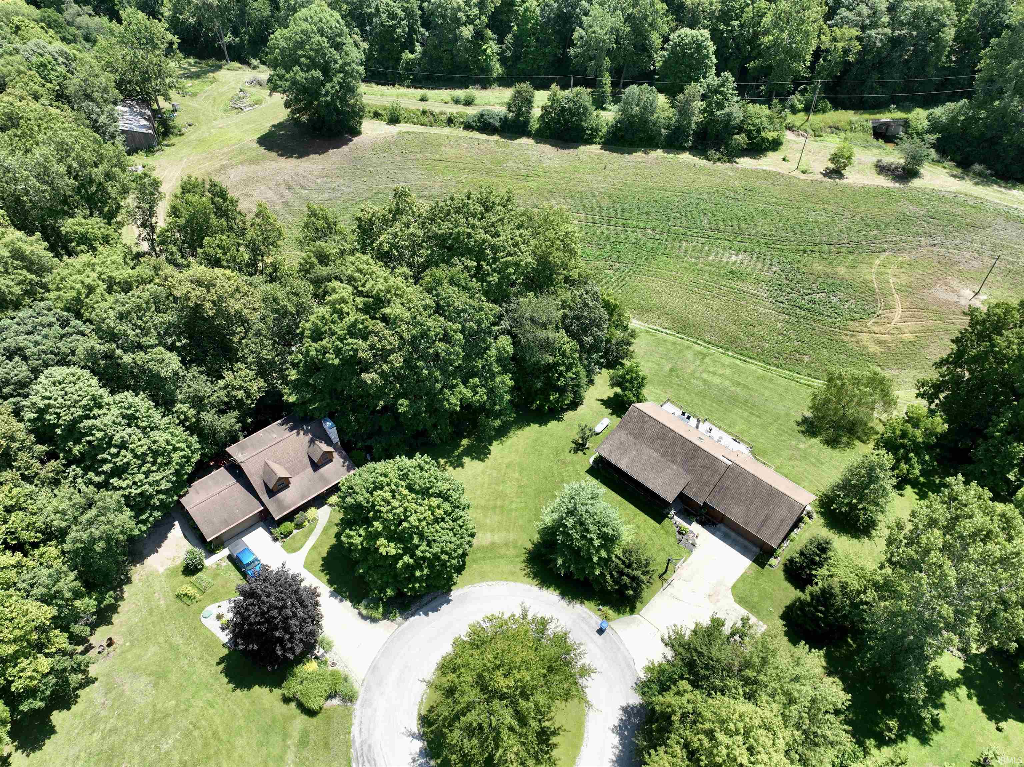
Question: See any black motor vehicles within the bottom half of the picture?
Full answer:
No, there's no black motor vehicle to be seen within the bottom half of the picture.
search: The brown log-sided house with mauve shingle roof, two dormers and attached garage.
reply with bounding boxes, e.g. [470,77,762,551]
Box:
[179,405,357,546]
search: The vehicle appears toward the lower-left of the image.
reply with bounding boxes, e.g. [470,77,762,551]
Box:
[227,538,263,582]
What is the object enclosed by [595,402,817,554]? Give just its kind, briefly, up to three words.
house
